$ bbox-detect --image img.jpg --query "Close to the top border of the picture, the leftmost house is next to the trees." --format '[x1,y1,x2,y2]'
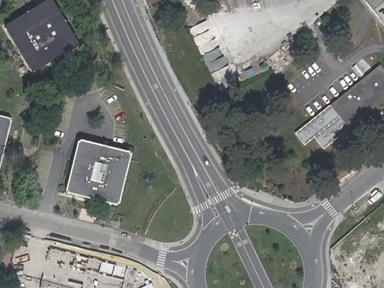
[5,0,78,70]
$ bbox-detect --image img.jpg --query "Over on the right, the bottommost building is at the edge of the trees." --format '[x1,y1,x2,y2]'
[295,106,345,150]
